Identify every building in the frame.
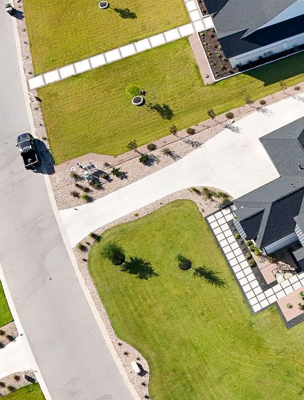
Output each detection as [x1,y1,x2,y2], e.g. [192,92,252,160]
[233,117,304,270]
[205,0,304,70]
